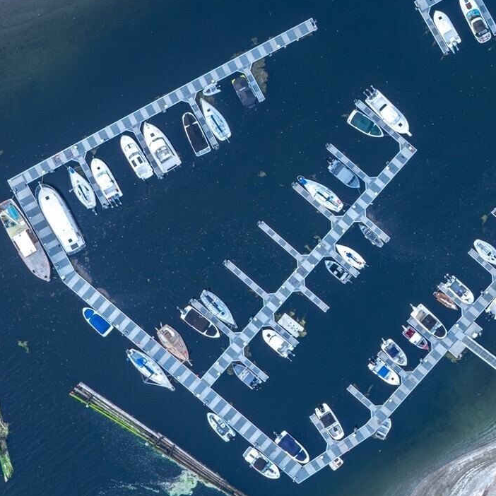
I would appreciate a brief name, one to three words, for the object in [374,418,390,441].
boat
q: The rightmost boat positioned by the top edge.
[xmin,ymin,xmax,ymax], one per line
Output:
[461,0,492,44]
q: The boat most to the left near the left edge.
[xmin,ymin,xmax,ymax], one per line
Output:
[0,197,49,281]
